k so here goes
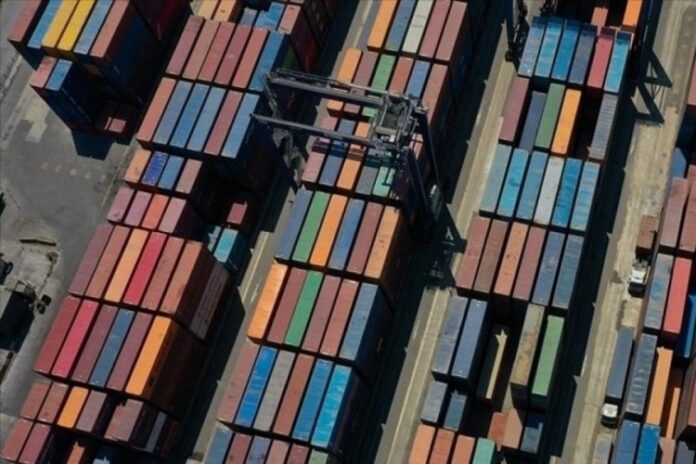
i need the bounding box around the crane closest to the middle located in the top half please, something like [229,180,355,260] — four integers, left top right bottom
[248,71,442,234]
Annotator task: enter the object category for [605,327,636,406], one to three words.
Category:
shipping container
